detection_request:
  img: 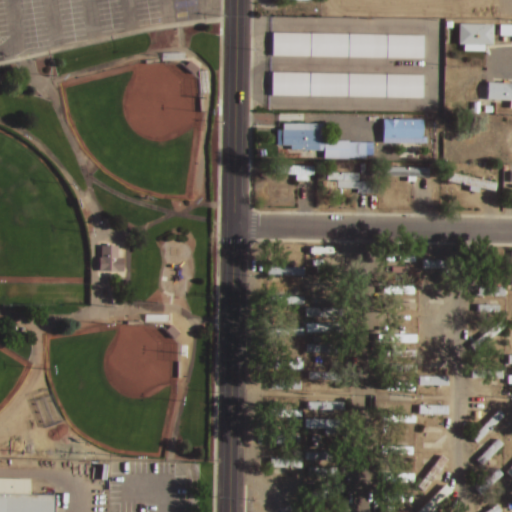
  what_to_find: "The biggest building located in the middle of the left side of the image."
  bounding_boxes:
[100,244,126,271]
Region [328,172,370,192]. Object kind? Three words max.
house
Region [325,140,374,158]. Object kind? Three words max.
building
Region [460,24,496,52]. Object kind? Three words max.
house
